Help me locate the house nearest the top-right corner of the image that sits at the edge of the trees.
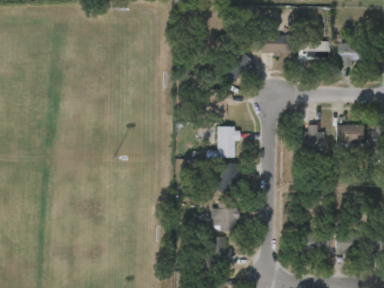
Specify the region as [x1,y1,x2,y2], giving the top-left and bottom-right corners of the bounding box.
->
[338,44,360,68]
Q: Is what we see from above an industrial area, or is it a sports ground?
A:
sports ground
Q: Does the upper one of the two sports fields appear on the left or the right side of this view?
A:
left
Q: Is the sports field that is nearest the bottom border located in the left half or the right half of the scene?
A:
left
